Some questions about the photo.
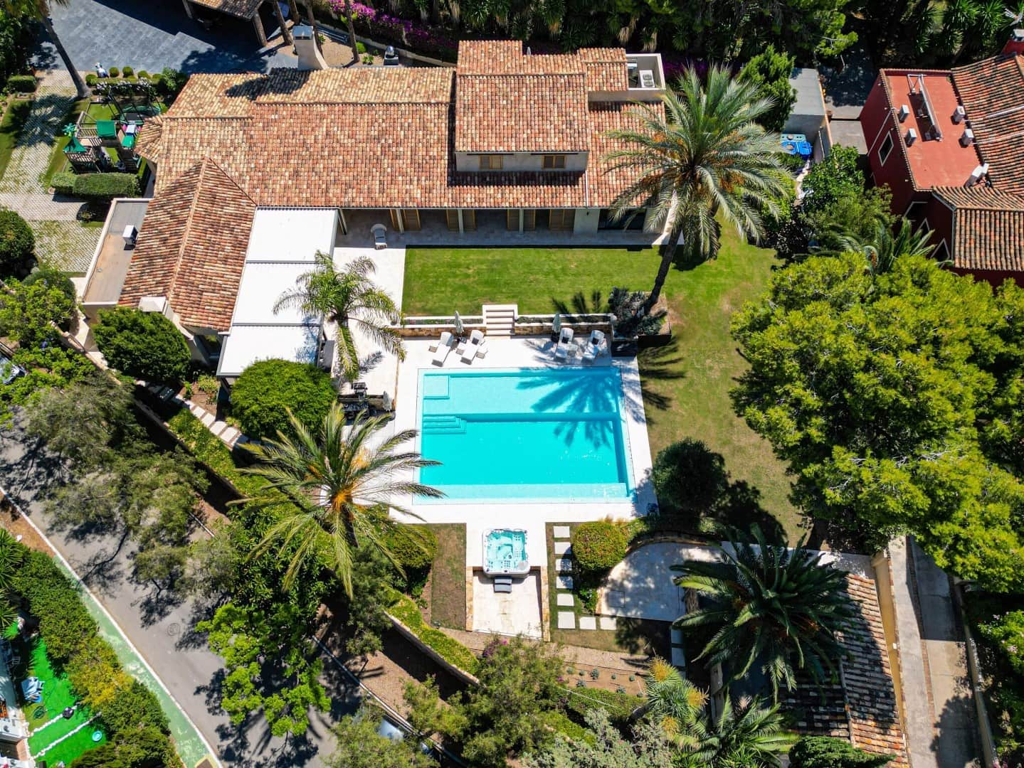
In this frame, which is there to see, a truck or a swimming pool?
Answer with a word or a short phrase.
swimming pool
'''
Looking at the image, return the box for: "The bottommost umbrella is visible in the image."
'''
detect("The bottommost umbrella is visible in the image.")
[381,392,395,423]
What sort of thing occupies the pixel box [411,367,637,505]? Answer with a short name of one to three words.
swimming pool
